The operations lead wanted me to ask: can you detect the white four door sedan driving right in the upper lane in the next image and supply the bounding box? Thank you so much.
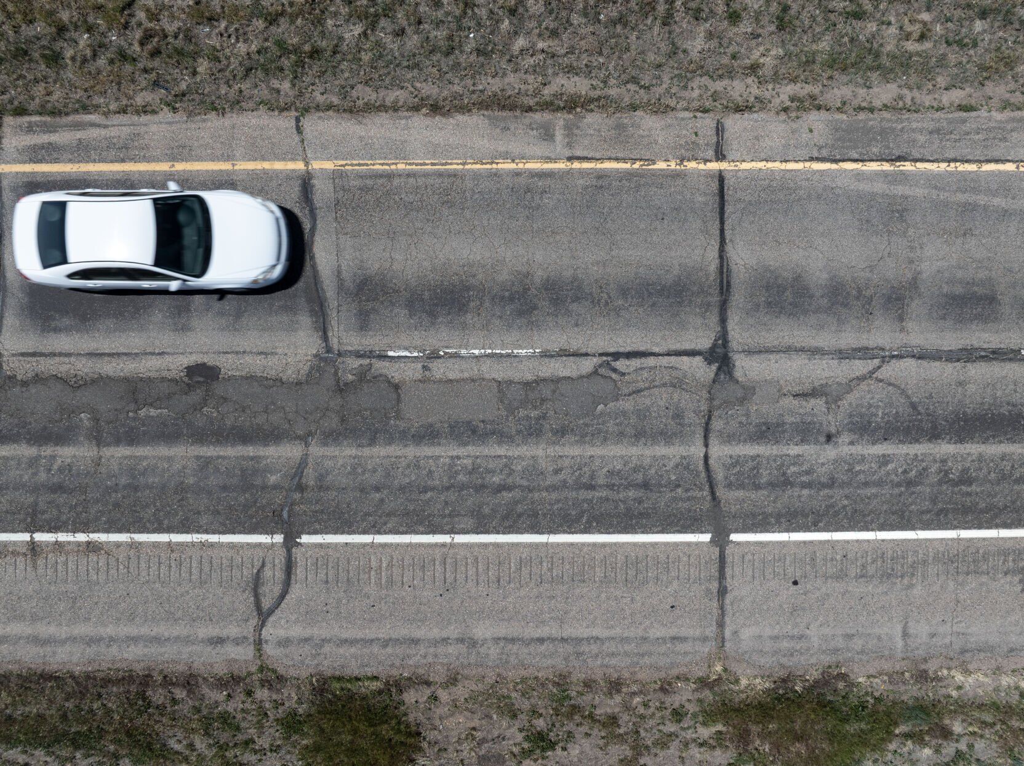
[13,181,289,291]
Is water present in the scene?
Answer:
No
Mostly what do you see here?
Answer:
paved ground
